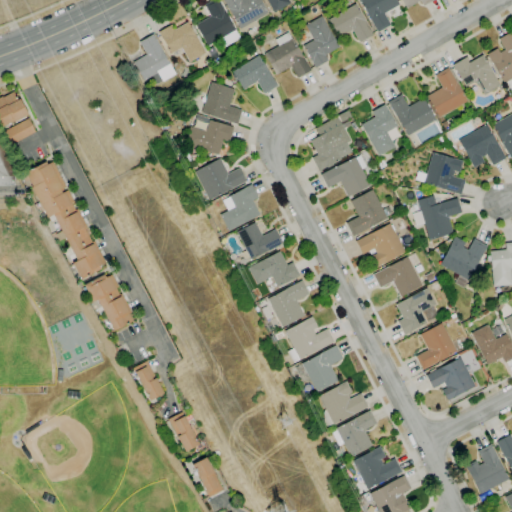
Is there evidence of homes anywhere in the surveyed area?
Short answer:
Yes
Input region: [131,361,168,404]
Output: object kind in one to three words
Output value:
house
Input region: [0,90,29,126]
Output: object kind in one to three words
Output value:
house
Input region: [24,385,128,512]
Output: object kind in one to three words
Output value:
baseball field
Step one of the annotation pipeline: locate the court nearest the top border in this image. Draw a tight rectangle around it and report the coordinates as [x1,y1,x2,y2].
[50,314,104,380]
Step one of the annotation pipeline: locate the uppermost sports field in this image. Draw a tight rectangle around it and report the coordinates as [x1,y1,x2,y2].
[0,269,53,388]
